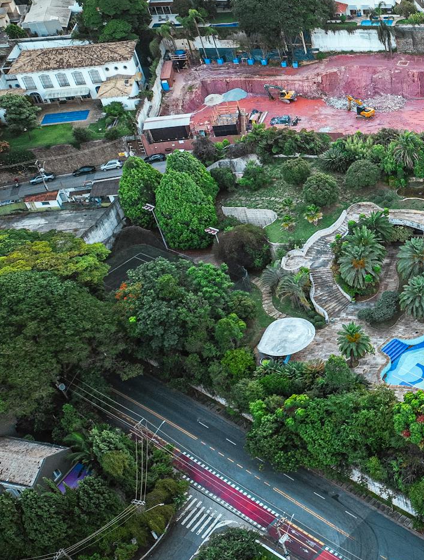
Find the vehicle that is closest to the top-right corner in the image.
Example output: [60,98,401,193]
[348,94,377,120]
